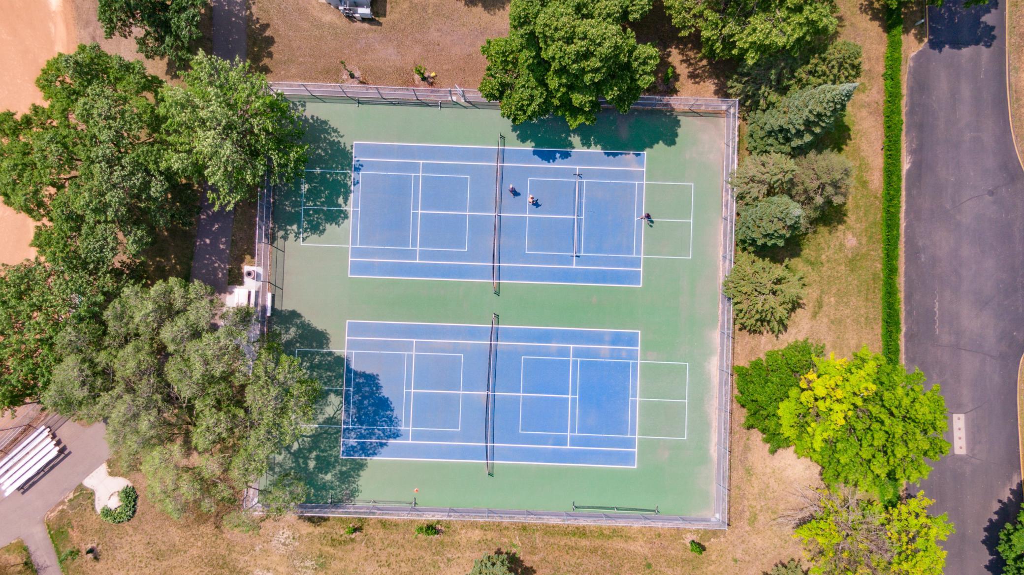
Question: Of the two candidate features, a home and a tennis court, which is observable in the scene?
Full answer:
This aerial view contains a tennis court.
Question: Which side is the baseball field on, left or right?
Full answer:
The baseball field sits on the left side.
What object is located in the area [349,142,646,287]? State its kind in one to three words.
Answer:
tennis court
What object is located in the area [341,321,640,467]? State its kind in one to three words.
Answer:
tennis court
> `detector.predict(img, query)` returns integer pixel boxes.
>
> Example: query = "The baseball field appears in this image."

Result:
[0,0,75,437]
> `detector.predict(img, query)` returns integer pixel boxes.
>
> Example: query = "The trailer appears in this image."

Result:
[320,0,371,28]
